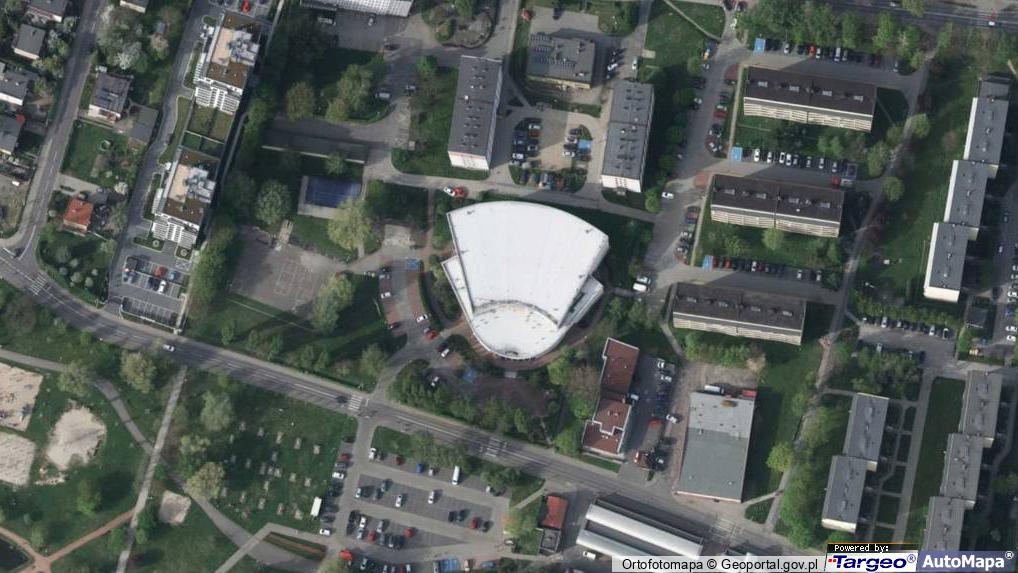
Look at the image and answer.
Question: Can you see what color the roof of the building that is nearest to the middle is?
white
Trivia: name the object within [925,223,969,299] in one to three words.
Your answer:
building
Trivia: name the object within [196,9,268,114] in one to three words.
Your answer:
house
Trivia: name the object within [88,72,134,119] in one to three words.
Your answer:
house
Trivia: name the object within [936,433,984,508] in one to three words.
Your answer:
building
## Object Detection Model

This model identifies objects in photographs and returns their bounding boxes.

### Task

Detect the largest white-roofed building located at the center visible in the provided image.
[440,200,610,364]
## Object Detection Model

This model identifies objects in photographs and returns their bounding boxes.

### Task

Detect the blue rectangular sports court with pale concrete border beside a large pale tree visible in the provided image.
[298,176,362,218]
